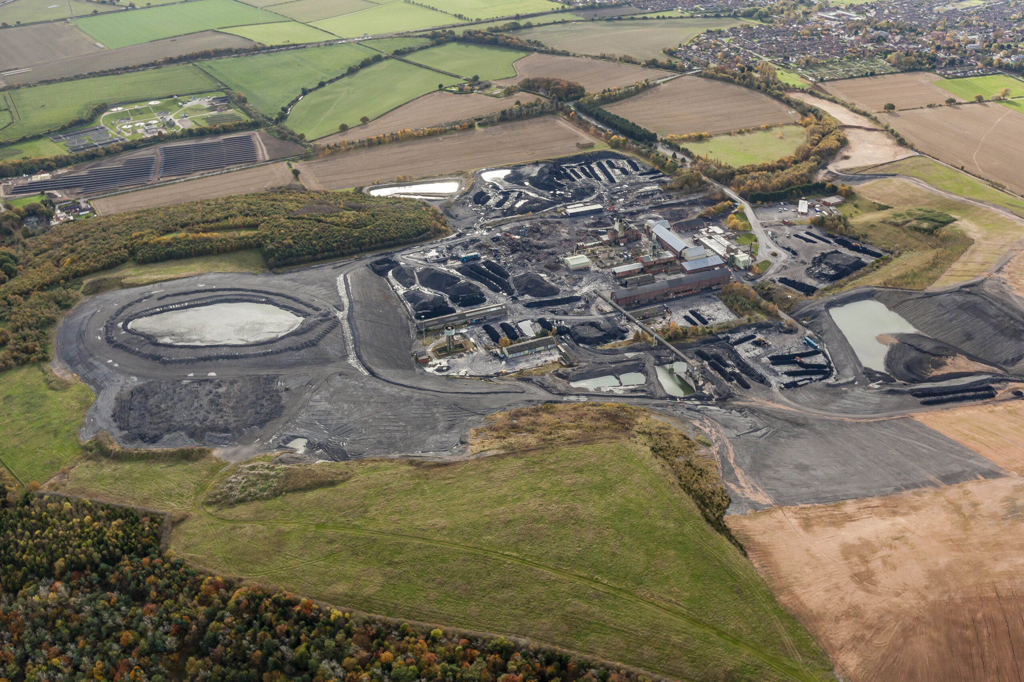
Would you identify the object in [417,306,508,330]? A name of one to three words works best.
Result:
shed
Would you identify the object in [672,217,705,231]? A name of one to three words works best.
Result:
building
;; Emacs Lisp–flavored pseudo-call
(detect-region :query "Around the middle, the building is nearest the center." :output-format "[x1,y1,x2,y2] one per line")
[505,338,557,358]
